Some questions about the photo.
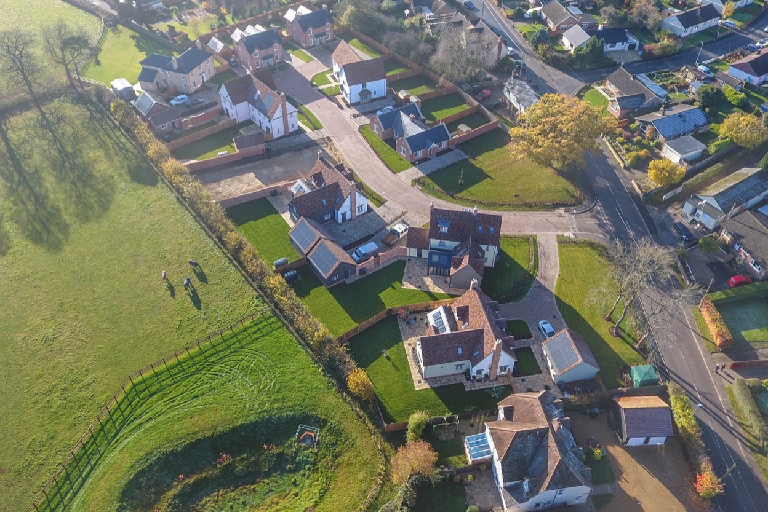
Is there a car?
Yes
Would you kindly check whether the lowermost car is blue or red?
blue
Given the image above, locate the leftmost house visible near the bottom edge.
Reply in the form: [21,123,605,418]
[464,398,586,512]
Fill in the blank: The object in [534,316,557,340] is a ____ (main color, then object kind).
blue car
